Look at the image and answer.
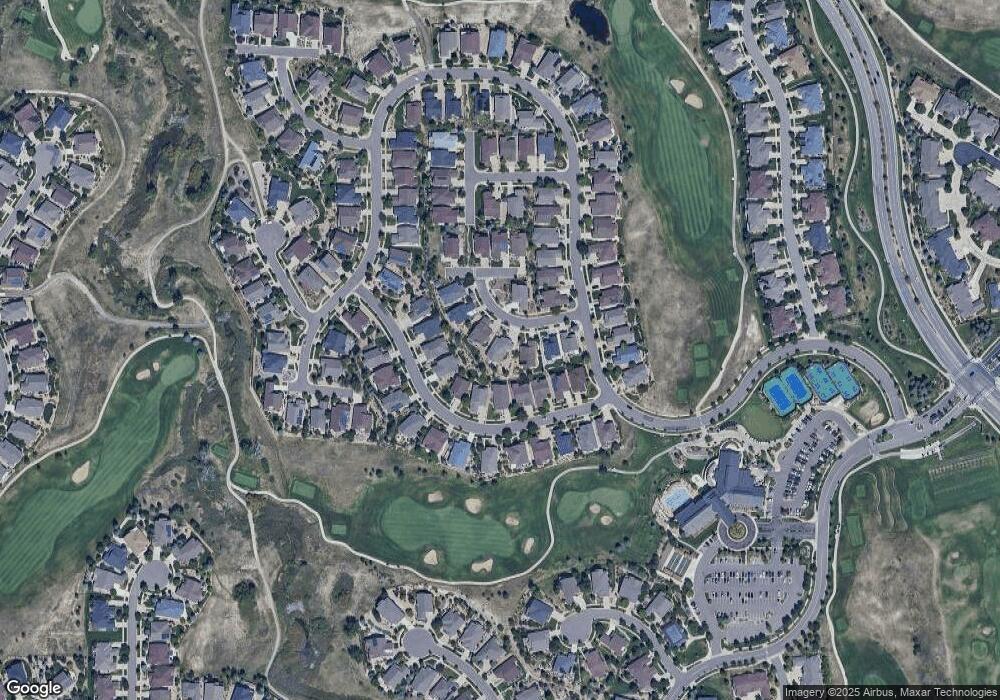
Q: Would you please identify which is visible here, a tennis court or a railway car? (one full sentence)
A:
Looking from above, you can make out a tennis court.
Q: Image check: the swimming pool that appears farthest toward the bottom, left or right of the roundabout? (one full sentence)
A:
Compared with the roundabout, the swimming pool that appears farthest toward the bottom is located further to the left.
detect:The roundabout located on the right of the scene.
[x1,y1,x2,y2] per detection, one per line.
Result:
[718,511,759,552]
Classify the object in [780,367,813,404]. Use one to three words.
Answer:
tennis court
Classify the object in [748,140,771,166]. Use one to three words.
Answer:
house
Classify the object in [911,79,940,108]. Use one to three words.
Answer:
house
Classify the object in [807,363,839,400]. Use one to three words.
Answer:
sports court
